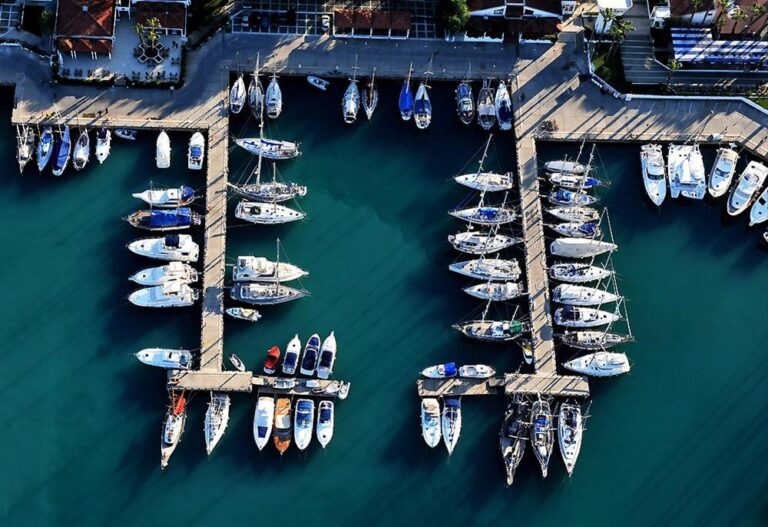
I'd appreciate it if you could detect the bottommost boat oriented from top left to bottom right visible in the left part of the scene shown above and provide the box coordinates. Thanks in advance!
[228,353,245,370]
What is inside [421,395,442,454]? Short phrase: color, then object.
white boat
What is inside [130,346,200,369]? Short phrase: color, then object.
white boat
